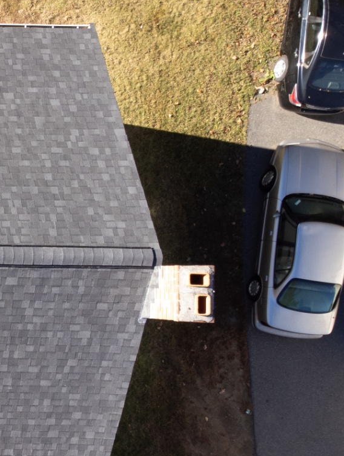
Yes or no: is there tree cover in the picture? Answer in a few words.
No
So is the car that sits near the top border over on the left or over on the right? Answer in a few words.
right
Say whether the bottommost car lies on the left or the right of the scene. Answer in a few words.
right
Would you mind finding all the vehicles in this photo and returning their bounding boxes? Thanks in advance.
[243,136,344,340]
[269,0,344,120]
